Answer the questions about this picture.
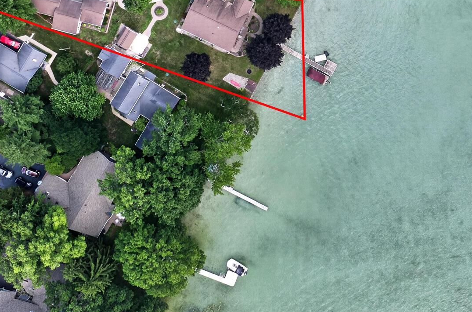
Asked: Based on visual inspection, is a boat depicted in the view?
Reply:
Yes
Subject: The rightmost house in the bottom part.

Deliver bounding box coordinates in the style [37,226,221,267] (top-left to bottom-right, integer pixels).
[31,151,115,238]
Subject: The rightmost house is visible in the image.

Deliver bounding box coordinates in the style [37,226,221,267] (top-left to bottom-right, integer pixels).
[172,0,254,53]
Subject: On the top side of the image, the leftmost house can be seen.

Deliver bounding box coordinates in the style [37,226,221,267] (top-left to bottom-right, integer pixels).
[0,42,49,90]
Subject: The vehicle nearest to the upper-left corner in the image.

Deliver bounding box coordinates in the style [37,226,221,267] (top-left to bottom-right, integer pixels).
[0,34,22,49]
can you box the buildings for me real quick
[172,0,254,53]
[115,26,139,51]
[30,0,109,35]
[110,70,181,151]
[31,151,115,238]
[98,45,132,79]
[0,42,49,90]
[0,278,49,312]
